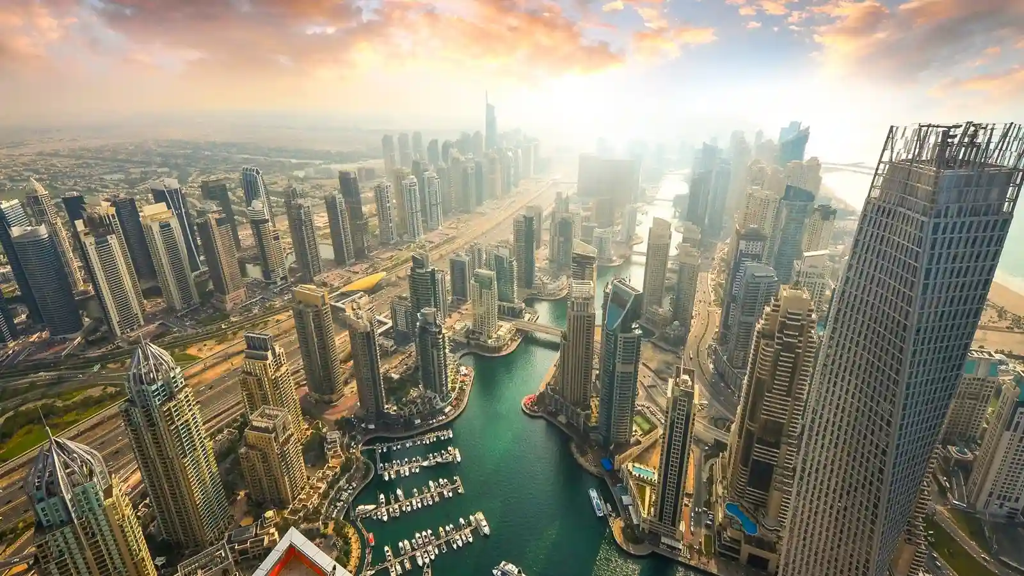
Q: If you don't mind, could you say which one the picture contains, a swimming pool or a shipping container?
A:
swimming pool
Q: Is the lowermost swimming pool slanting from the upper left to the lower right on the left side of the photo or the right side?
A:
right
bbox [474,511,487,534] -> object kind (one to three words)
boat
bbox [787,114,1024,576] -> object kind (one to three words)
building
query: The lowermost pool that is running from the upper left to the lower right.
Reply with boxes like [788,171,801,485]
[724,506,760,536]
